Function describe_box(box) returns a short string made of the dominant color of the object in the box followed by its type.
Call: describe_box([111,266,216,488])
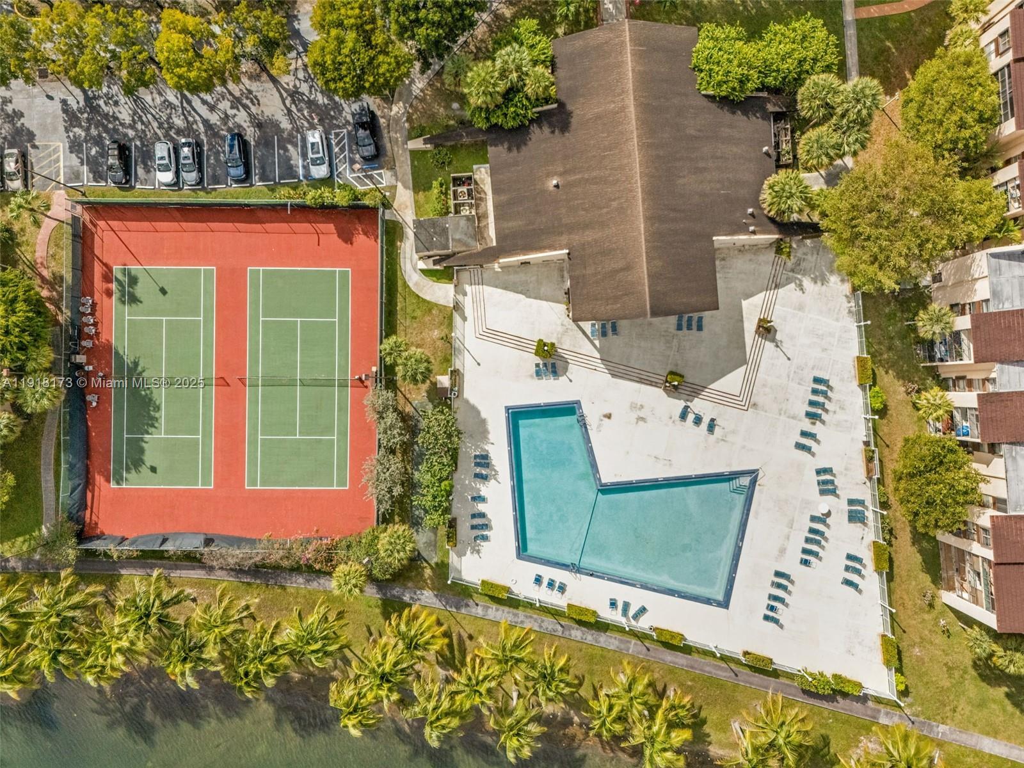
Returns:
green tennis court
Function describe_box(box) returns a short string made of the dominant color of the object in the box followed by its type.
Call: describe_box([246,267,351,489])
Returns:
green tennis court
